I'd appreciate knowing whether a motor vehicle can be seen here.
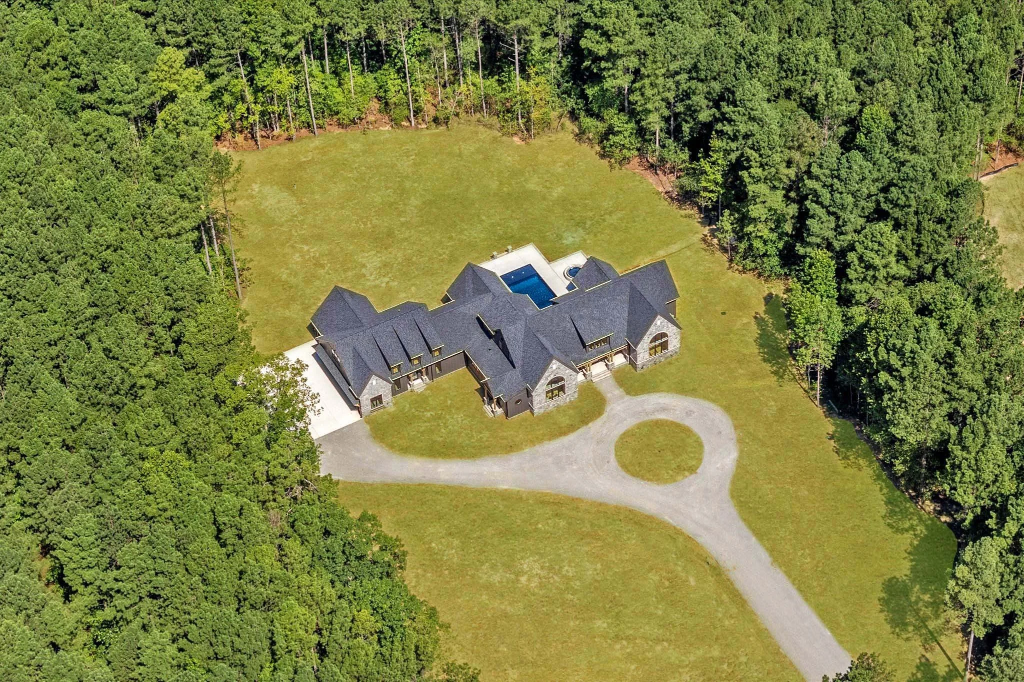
No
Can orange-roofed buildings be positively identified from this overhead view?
No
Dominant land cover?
trees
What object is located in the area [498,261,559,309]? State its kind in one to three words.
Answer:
swimming pool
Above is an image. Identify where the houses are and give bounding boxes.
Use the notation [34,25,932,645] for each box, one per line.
[309,255,684,419]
